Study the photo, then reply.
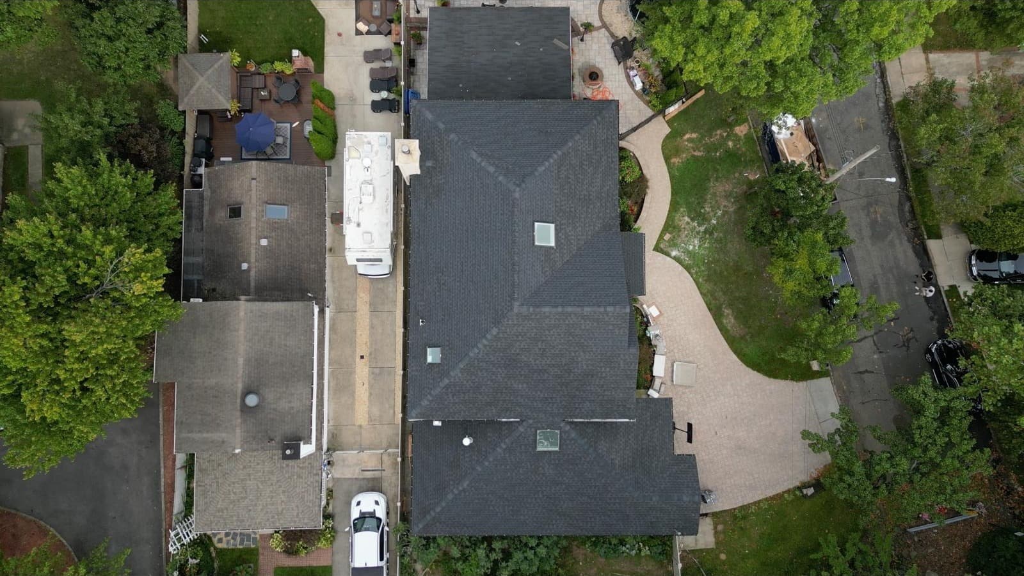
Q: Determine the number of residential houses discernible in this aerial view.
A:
2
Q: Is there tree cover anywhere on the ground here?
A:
Yes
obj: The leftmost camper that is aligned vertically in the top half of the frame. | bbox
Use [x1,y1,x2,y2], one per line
[345,130,399,279]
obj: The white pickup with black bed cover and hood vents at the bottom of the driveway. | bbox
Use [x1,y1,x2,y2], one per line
[345,490,391,576]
